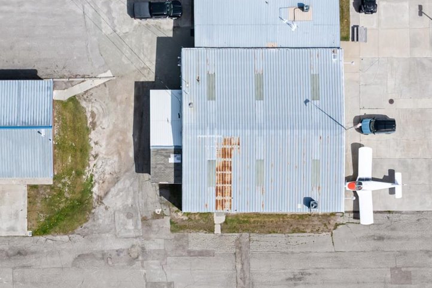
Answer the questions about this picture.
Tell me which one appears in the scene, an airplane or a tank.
airplane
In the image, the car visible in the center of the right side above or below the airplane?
above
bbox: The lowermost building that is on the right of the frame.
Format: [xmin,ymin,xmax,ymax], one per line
[178,48,357,222]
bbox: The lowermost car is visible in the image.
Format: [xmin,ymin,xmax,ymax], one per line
[358,115,397,136]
